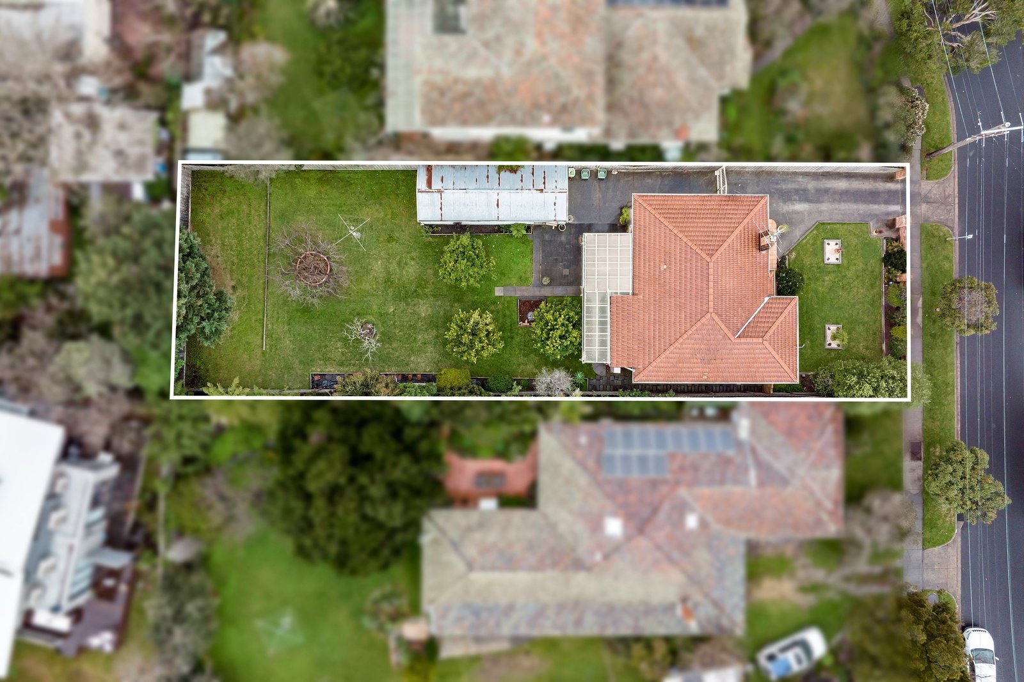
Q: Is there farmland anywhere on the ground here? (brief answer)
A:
No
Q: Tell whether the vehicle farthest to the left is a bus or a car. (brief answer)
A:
car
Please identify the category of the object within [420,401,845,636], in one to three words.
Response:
house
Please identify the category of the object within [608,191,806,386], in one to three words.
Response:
house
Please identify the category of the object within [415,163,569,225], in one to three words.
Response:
shed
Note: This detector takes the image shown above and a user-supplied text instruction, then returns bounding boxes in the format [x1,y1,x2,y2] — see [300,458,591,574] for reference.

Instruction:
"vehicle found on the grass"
[749,624,825,678]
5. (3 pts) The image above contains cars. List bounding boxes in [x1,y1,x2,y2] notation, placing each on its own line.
[957,625,998,682]
[749,624,825,678]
